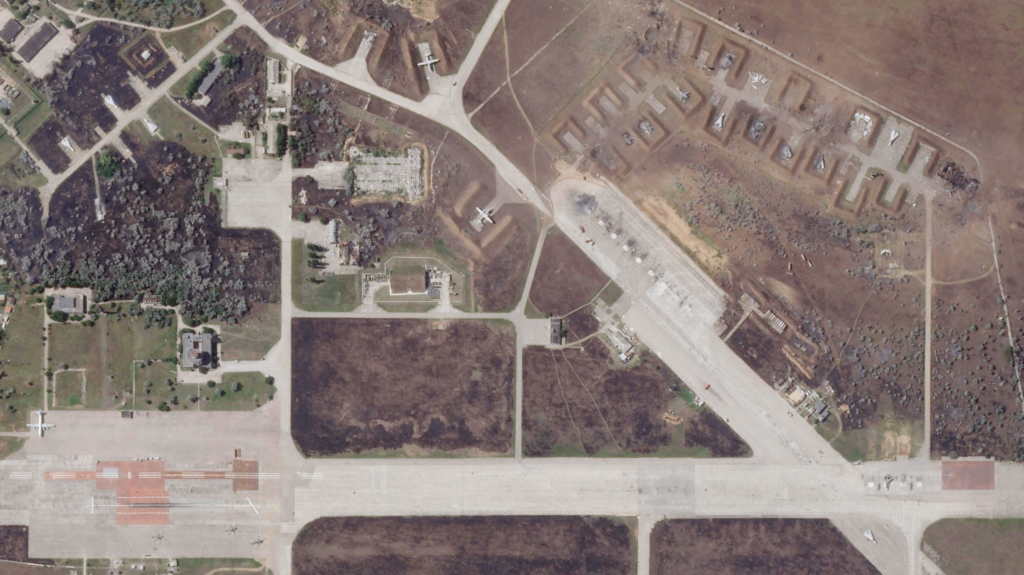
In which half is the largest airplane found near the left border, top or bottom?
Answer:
bottom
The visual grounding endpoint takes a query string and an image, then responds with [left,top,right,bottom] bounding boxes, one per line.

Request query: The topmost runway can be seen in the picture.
[621,299,849,466]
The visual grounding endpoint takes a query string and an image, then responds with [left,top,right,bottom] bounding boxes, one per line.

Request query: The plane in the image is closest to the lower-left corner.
[25,413,54,438]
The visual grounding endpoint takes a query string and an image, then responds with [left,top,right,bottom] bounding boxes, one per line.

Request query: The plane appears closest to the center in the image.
[475,206,494,225]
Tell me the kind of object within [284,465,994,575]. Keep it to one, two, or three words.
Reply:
runway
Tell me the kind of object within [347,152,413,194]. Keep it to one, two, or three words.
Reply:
building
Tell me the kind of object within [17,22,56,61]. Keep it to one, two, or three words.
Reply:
building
